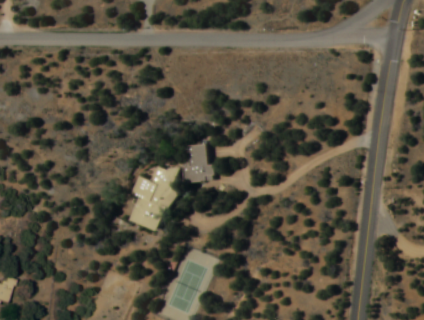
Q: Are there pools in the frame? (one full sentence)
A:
No, no pool can be seen from above.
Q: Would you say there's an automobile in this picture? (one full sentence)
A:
No, the photo shows no automobile.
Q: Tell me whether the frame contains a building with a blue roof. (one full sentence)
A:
No, the frame has no building with a blue roof in it.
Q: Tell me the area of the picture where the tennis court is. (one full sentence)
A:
The tennis court sits in the bottom section of the image.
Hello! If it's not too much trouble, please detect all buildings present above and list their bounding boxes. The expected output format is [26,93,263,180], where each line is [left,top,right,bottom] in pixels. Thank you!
[184,144,214,182]
[129,166,180,232]
[0,279,18,304]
